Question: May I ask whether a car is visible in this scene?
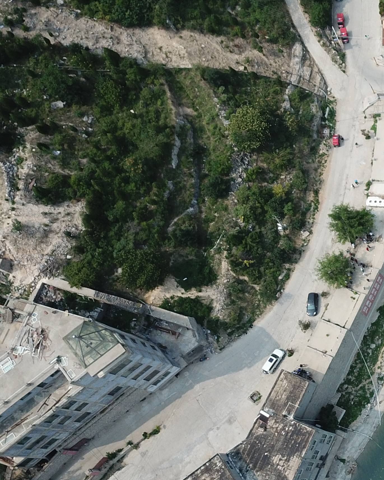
Yes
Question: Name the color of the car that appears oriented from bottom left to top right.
white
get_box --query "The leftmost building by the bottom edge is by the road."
[0,305,179,478]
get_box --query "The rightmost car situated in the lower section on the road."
[305,292,319,318]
